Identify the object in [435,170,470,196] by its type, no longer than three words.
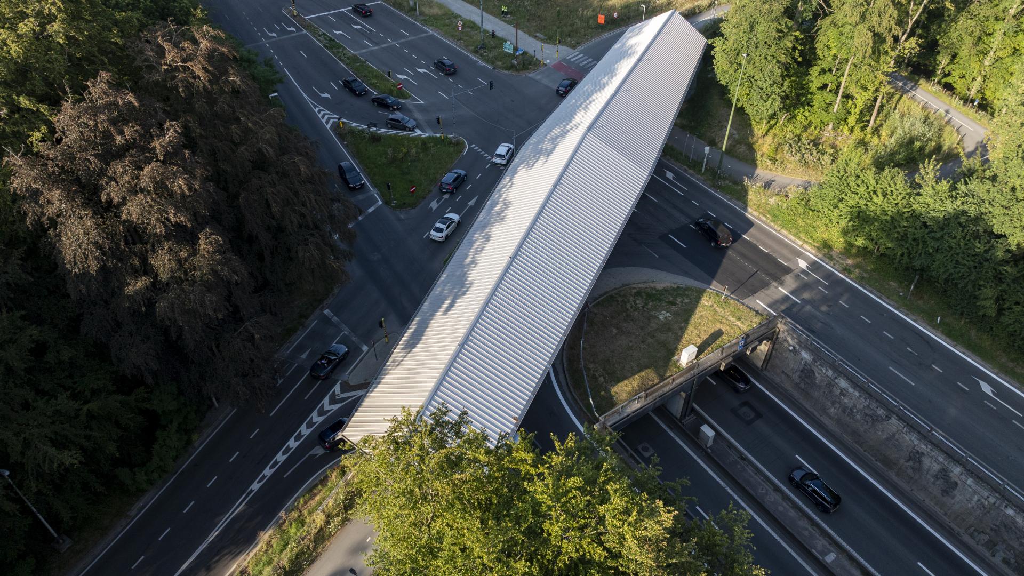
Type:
car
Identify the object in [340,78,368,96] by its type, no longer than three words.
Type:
car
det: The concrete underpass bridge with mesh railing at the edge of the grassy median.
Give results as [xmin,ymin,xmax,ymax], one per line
[592,312,793,432]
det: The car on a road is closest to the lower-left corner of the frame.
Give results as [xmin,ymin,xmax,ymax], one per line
[303,408,353,464]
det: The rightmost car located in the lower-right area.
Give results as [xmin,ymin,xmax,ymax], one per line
[783,464,847,519]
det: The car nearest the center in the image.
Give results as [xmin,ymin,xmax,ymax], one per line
[426,215,463,245]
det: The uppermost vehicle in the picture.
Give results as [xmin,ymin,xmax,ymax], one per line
[351,5,373,18]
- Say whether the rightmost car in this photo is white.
No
